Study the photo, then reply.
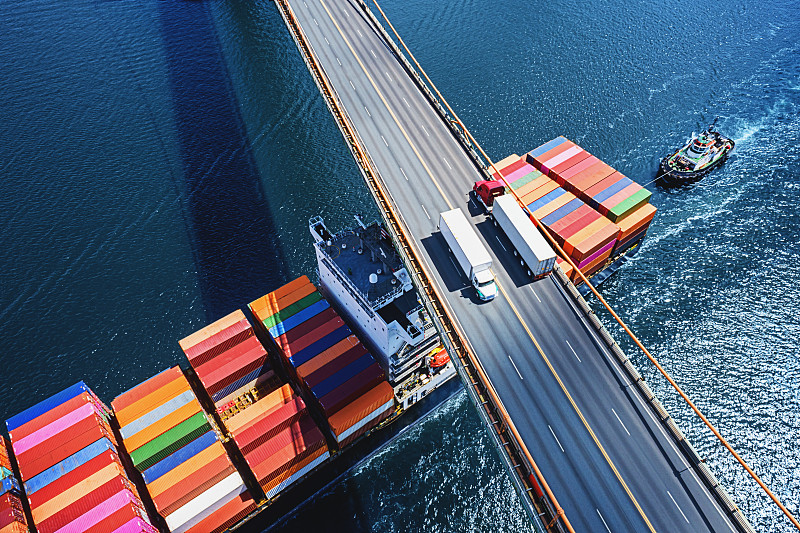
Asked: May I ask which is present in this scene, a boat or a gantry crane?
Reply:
boat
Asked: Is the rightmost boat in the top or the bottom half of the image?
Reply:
top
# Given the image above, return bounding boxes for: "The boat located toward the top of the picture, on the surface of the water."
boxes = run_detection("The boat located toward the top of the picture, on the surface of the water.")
[656,120,740,188]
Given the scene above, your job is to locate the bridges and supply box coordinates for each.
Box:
[273,0,800,533]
